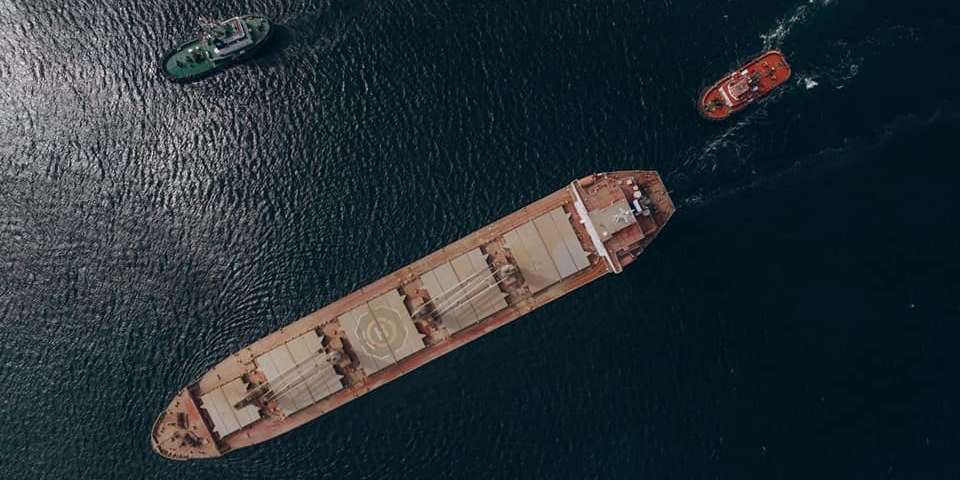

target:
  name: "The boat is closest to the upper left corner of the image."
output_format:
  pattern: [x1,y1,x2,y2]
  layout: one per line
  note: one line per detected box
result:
[160,16,271,79]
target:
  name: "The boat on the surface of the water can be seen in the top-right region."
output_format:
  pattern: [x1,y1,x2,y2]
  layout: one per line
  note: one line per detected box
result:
[700,53,791,114]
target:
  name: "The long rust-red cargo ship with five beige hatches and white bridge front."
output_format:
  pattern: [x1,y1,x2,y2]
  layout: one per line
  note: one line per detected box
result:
[148,170,677,458]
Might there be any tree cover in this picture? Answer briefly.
No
